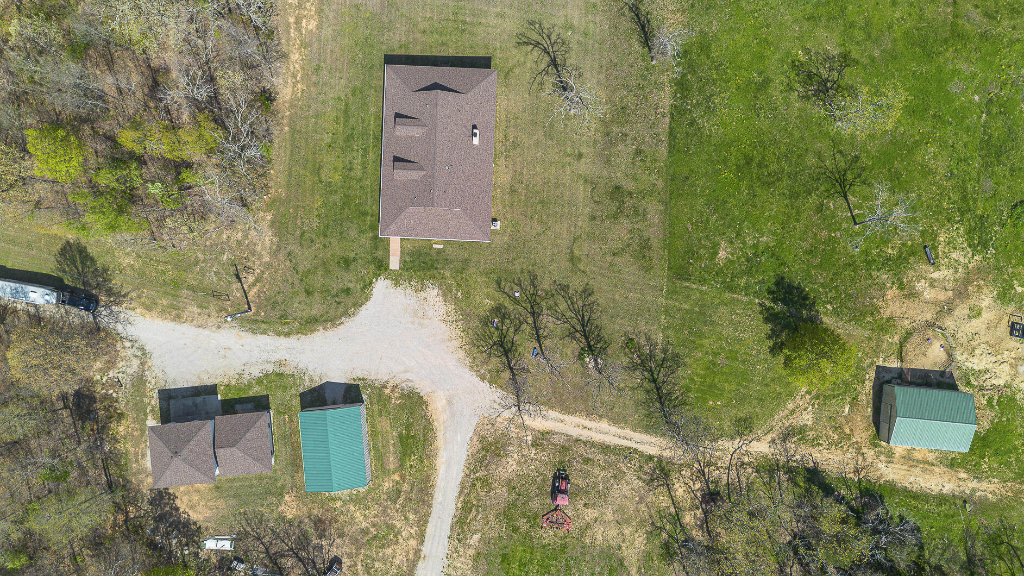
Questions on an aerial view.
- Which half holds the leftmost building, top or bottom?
bottom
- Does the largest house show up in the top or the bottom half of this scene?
top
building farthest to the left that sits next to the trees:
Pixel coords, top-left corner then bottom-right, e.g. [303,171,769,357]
[147,411,276,489]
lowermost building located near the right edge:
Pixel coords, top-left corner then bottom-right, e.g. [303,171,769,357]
[877,384,977,452]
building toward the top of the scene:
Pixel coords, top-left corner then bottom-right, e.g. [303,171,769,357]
[378,64,498,243]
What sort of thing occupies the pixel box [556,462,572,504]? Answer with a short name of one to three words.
work vehicle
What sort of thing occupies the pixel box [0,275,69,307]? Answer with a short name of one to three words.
trailer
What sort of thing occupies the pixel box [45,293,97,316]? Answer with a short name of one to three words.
truck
